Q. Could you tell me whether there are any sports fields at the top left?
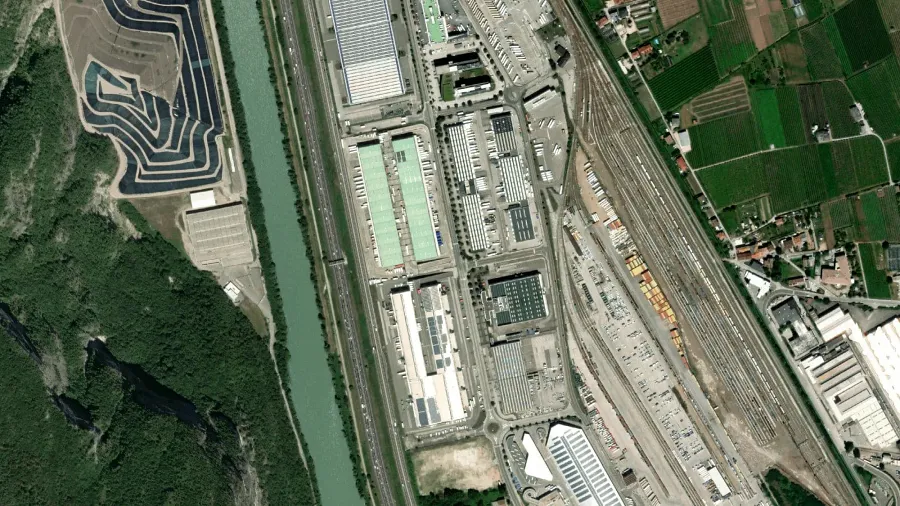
No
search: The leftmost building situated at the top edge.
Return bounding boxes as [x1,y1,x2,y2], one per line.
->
[330,0,405,105]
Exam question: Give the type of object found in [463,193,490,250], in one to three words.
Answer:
building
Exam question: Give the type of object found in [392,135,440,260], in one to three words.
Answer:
building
